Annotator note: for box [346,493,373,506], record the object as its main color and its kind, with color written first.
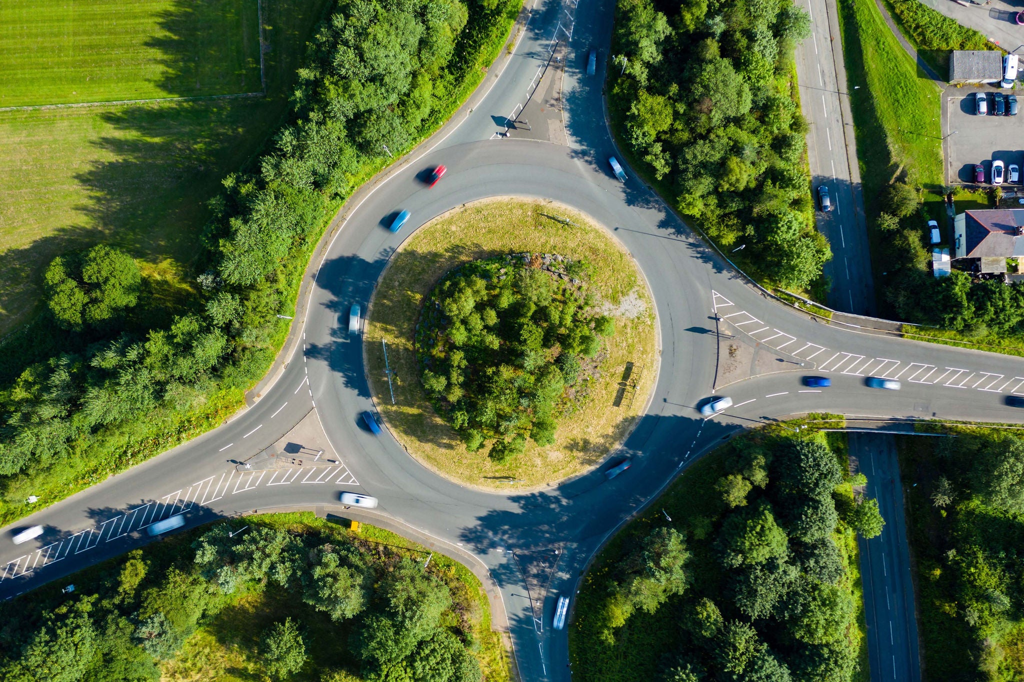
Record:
white vehicle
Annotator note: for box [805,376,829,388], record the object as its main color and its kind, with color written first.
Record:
blue vehicle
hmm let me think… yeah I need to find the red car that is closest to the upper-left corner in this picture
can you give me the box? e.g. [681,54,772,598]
[428,166,447,189]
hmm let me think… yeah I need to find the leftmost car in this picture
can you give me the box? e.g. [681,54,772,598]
[14,525,42,543]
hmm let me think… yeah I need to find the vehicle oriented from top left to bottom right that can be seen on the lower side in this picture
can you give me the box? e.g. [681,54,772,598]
[363,411,383,434]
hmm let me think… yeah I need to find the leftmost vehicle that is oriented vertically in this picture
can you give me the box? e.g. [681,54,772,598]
[348,306,360,332]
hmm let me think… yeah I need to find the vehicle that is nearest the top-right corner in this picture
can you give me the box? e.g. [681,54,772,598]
[1000,51,1024,88]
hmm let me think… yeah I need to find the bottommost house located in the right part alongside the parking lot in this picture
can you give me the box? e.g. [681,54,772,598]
[954,210,1024,273]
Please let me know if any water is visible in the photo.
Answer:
No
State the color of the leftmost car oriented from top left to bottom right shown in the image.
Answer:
blue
